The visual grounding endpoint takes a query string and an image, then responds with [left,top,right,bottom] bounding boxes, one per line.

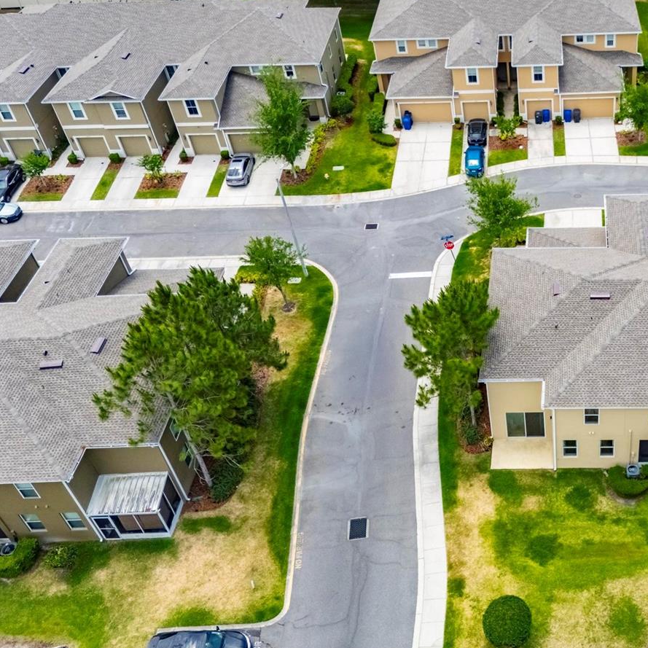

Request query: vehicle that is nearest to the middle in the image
[221,154,255,186]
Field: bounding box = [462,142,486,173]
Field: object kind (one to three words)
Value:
car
